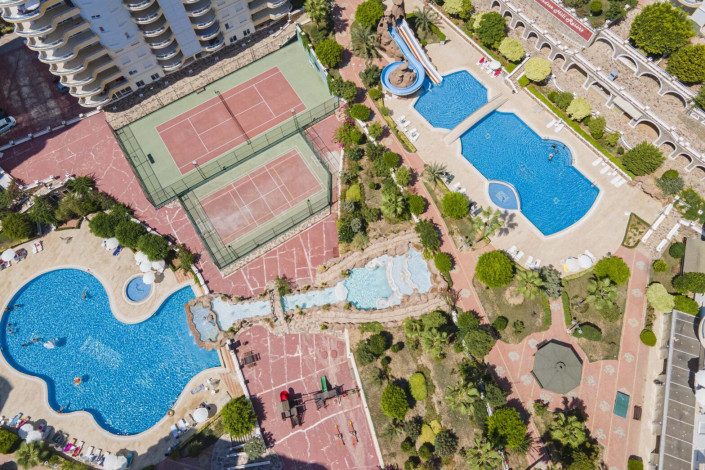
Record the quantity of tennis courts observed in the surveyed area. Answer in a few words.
2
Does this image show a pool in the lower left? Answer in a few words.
Yes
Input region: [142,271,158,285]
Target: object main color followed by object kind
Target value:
white umbrella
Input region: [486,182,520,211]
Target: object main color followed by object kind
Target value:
blue swimming pool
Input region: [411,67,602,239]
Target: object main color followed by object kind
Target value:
blue swimming pool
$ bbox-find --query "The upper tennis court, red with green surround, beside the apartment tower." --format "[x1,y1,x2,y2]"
[116,40,336,194]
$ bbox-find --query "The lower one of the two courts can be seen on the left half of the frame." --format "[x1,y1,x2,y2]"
[180,132,330,266]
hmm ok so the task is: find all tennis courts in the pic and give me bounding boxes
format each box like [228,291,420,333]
[116,40,336,194]
[180,132,330,266]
